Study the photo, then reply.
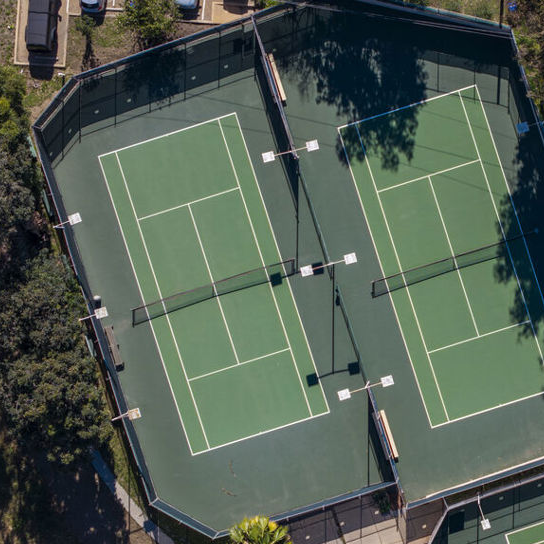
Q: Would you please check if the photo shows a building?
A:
No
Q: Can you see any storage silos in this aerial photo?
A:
No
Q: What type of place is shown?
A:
sports ground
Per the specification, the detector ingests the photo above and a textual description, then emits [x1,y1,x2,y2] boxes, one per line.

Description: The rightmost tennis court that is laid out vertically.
[258,1,544,502]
